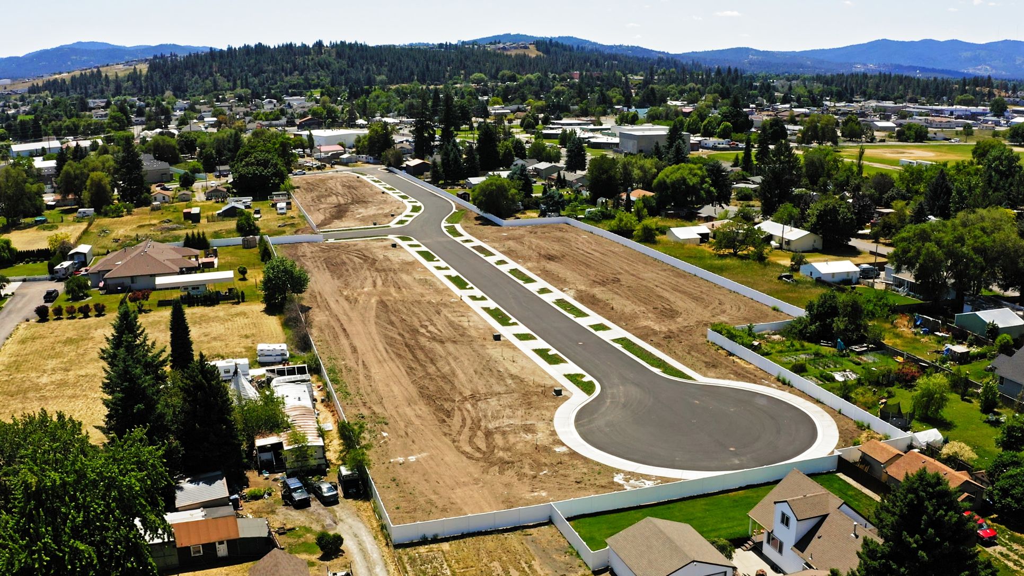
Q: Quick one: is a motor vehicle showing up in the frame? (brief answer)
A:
Yes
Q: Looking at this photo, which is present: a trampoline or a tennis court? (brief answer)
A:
trampoline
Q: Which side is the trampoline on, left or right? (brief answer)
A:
right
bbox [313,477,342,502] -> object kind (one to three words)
car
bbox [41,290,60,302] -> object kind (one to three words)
vehicle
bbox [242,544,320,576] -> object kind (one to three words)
shed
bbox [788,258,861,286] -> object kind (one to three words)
building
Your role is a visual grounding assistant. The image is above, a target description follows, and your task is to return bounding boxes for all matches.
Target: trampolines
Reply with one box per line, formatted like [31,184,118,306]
[878,399,918,429]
